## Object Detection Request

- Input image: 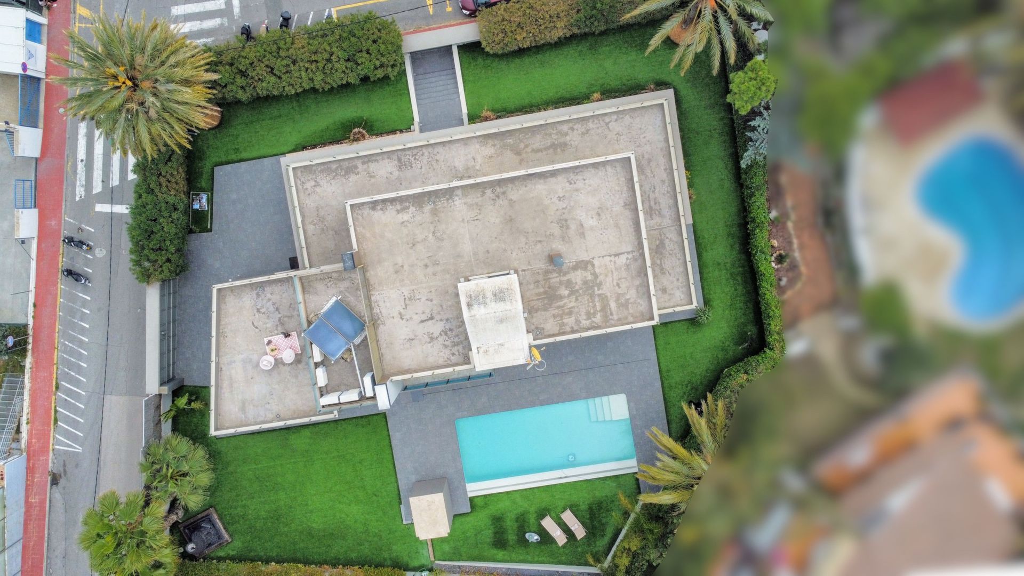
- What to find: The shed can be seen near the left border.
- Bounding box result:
[0,8,45,82]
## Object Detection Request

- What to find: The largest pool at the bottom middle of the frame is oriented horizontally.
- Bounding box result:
[456,394,639,497]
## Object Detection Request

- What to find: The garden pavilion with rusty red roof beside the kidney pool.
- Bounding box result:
[875,59,982,151]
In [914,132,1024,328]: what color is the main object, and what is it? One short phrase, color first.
blue swimming pool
